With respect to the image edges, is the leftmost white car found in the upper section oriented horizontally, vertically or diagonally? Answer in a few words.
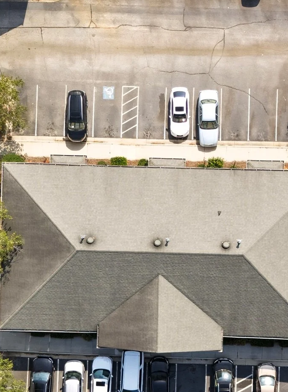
vertically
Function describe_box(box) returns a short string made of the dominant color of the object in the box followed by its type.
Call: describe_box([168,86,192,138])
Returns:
white car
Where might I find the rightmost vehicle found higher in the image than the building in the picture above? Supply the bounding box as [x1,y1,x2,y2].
[197,89,221,147]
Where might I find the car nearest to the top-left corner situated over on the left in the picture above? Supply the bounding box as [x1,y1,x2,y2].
[63,89,89,143]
